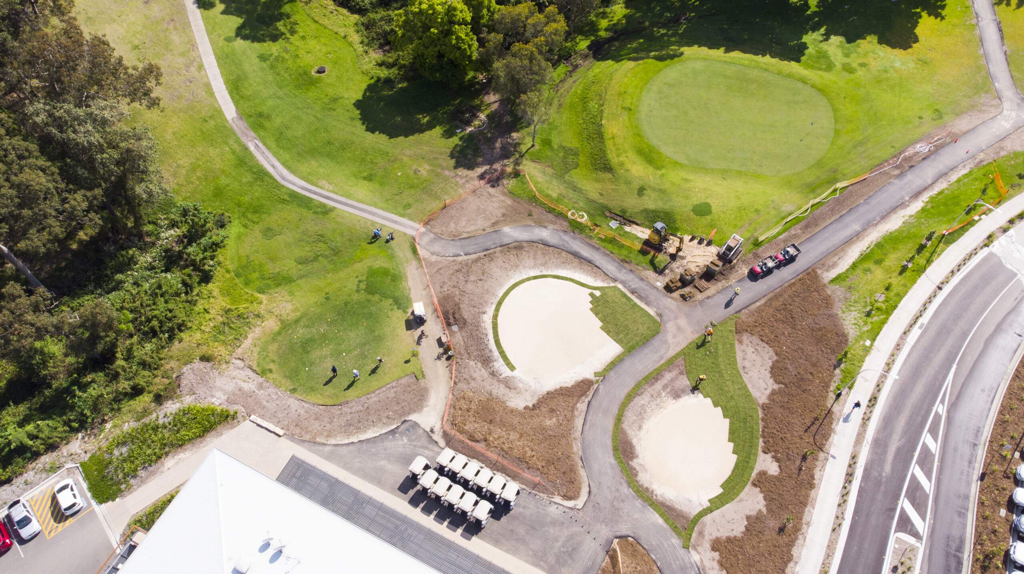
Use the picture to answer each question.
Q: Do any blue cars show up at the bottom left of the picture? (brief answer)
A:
No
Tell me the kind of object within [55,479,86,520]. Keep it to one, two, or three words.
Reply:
car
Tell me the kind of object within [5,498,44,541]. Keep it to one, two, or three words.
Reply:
car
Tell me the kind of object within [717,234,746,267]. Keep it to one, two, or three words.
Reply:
work vehicle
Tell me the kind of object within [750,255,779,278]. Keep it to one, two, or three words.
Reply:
vehicle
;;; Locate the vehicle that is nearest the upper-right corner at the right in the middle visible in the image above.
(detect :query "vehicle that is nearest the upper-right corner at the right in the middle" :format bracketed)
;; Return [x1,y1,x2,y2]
[774,242,802,265]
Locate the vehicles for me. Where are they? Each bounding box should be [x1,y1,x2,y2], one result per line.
[644,229,685,257]
[430,477,454,506]
[717,234,746,267]
[406,456,430,485]
[1009,492,1024,512]
[469,500,493,530]
[417,470,441,499]
[443,485,467,514]
[472,469,495,498]
[459,462,482,491]
[0,528,14,560]
[774,242,802,265]
[485,475,508,505]
[5,498,44,541]
[55,479,86,520]
[434,448,457,477]
[413,301,428,324]
[750,255,779,278]
[446,454,470,483]
[456,492,479,522]
[498,482,521,512]
[1006,543,1024,564]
